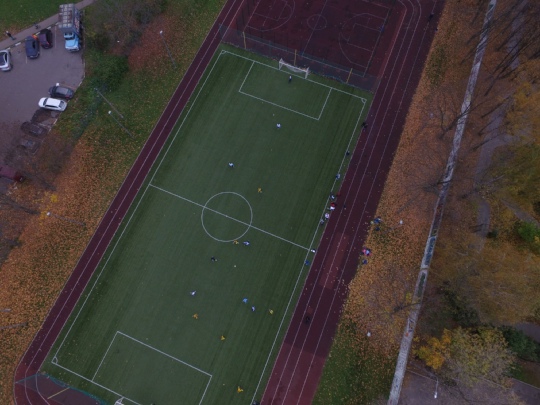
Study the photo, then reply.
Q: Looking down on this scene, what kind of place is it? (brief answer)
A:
sports ground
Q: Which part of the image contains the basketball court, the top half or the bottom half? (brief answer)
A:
top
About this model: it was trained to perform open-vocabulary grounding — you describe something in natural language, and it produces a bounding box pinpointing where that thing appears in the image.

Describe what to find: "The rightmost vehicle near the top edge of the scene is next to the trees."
[59,9,84,55]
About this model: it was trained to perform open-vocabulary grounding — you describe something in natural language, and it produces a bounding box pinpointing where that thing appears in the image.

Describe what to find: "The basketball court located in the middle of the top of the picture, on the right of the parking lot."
[222,0,396,89]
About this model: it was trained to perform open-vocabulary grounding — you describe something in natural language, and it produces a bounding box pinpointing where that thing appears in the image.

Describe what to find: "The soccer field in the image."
[38,42,374,405]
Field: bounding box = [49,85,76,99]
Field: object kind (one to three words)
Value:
car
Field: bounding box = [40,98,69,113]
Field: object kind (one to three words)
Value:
car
